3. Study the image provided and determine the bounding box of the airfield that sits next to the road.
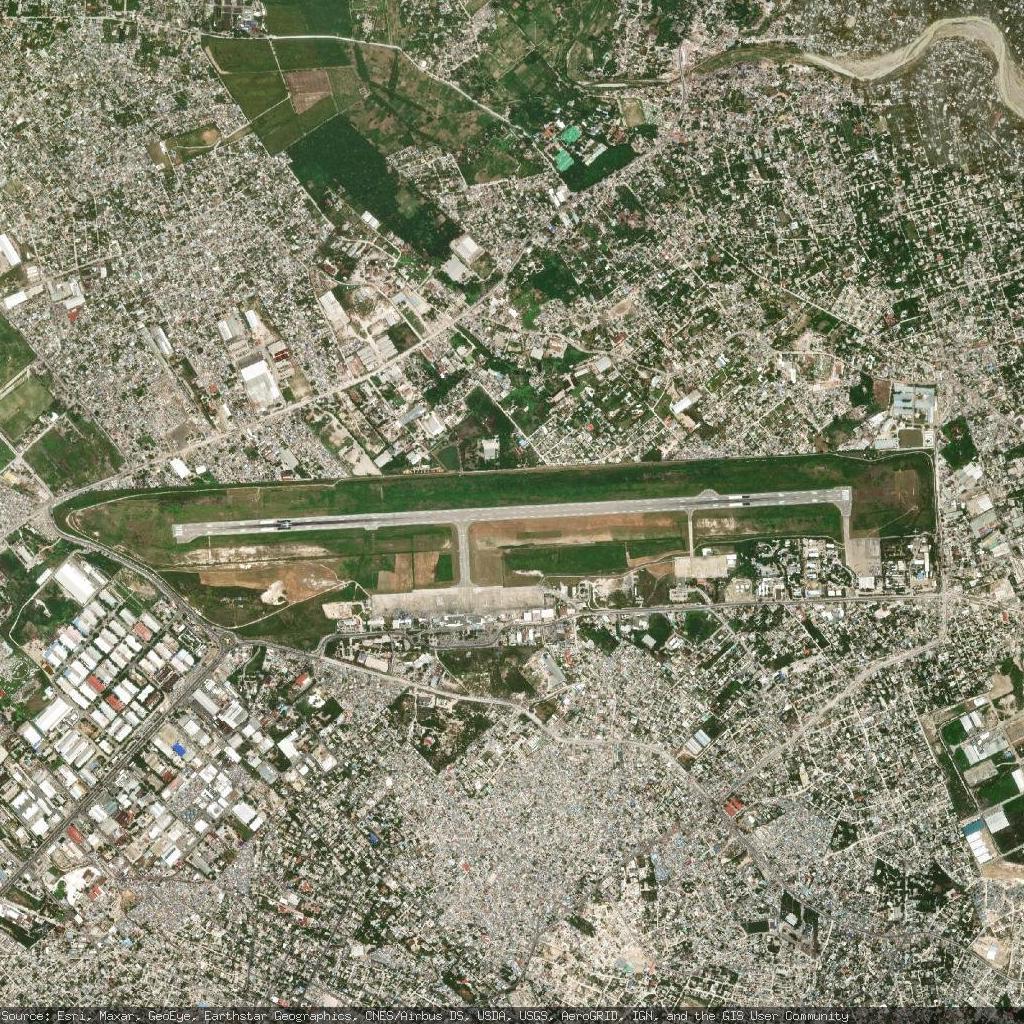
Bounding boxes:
[55,450,937,630]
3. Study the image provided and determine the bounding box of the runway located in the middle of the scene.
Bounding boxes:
[172,486,852,543]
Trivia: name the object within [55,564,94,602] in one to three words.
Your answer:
building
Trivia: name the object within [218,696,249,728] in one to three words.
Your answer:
building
